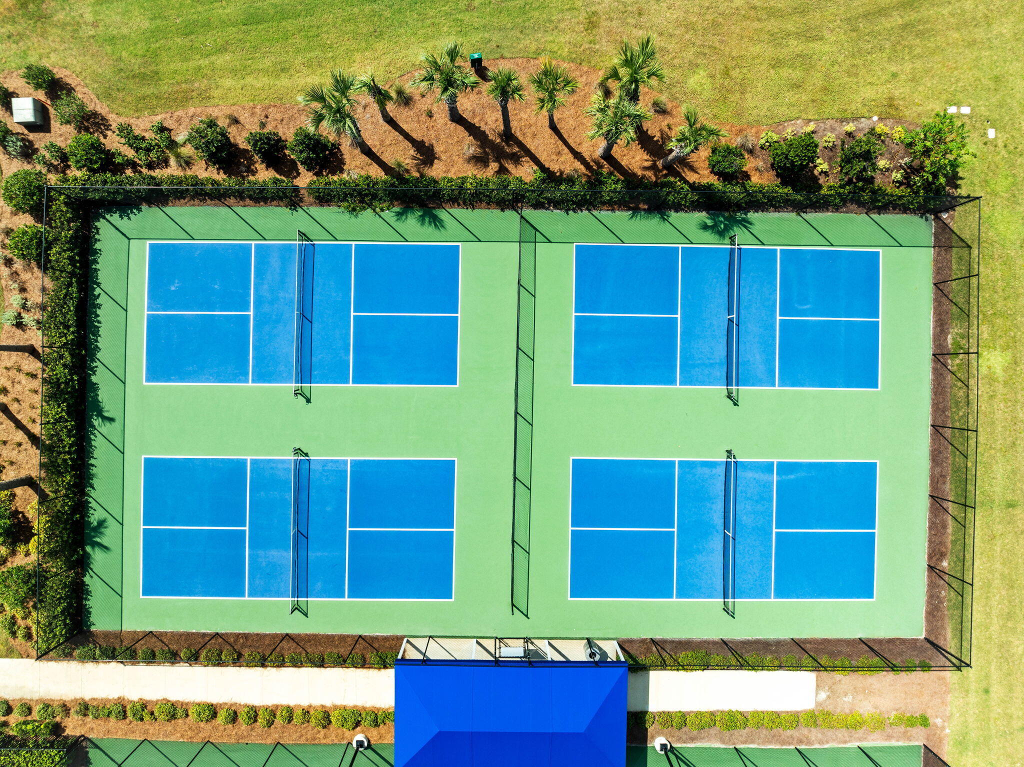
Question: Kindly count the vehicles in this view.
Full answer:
The picture shows no vehicles.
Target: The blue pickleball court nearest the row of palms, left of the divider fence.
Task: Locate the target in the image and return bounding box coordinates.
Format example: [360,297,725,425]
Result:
[145,241,459,386]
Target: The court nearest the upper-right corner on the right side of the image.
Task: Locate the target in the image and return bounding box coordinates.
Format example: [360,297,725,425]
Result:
[573,244,882,390]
